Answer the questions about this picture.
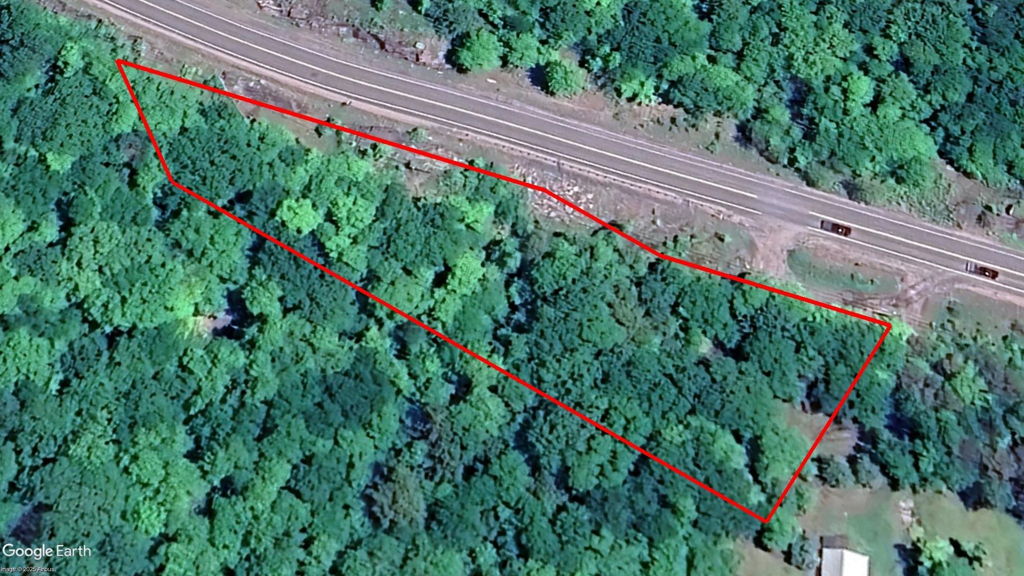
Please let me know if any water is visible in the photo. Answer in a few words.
No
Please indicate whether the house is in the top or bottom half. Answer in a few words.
bottom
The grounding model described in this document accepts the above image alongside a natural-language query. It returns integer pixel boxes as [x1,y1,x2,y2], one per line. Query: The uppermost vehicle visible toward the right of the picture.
[820,220,852,237]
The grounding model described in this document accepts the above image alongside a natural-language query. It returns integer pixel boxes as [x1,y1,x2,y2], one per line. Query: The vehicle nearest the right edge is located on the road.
[966,262,999,280]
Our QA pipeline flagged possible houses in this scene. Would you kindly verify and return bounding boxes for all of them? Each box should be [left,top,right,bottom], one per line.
[822,538,869,576]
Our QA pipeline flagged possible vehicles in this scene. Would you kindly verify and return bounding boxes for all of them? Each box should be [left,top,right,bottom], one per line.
[966,262,999,280]
[820,220,852,237]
